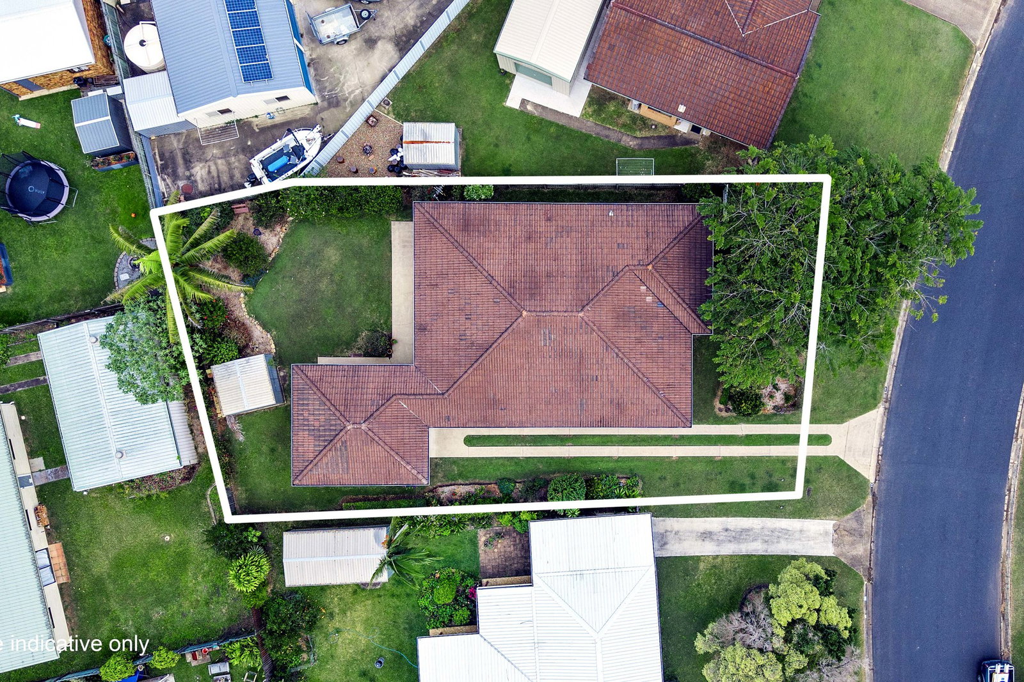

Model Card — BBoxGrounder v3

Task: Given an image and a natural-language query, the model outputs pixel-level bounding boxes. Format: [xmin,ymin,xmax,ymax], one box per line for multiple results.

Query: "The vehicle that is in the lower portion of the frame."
[973,659,1016,682]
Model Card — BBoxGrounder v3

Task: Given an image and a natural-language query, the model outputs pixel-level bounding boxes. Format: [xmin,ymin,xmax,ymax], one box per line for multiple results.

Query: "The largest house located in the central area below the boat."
[290,199,715,488]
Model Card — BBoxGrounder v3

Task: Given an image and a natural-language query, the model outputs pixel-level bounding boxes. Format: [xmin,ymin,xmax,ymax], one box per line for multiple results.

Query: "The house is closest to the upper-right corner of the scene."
[581,0,820,149]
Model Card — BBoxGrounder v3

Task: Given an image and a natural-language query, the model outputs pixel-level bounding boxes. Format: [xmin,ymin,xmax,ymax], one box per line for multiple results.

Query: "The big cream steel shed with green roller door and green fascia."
[492,0,606,92]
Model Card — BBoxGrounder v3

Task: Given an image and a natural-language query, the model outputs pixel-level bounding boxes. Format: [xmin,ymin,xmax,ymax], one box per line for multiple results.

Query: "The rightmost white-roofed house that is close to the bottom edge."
[415,509,665,682]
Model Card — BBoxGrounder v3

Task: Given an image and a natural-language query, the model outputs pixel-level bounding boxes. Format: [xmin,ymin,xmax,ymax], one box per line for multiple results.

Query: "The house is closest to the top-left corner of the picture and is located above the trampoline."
[0,0,115,96]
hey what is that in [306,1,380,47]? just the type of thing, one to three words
trailer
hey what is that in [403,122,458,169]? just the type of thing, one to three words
shed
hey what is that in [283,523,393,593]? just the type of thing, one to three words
shed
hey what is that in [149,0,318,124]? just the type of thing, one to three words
building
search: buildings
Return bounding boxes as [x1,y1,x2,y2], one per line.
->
[283,523,393,593]
[415,509,665,682]
[290,199,715,488]
[581,0,820,149]
[492,0,606,92]
[36,311,199,491]
[0,0,115,96]
[0,401,70,675]
[211,355,288,418]
[149,0,318,124]
[403,122,458,169]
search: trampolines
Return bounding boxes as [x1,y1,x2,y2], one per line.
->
[0,150,85,232]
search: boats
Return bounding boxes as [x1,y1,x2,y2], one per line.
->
[242,126,328,185]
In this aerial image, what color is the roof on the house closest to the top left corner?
white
